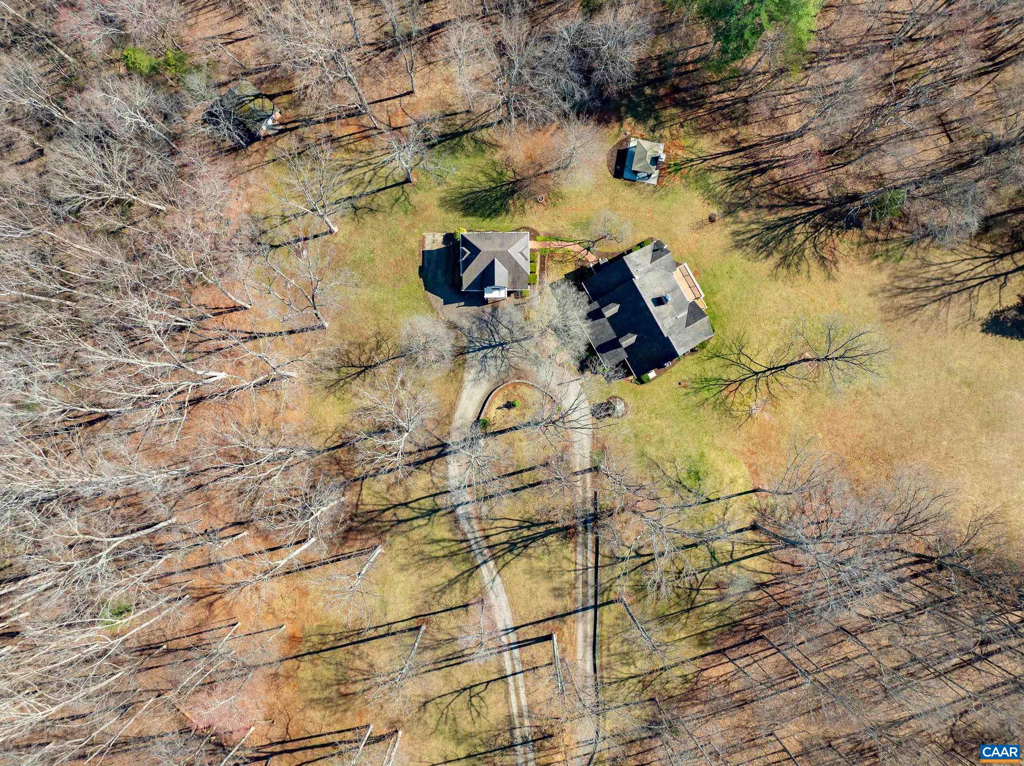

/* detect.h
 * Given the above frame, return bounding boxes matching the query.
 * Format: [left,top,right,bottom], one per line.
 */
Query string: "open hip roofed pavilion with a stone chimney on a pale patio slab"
[623,137,666,184]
